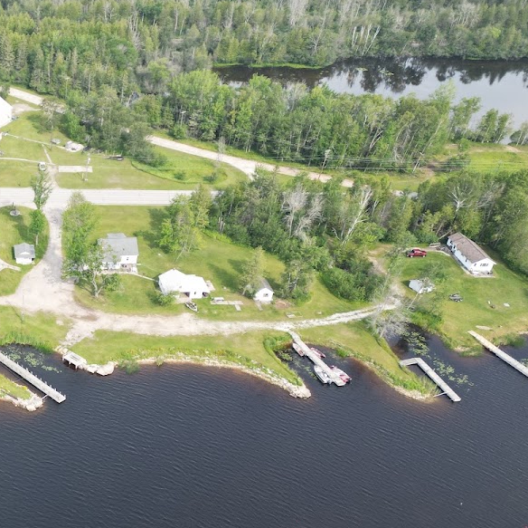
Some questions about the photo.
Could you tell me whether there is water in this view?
Yes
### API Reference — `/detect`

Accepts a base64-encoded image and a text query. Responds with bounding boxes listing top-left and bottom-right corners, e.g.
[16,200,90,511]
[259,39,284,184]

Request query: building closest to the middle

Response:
[245,272,277,303]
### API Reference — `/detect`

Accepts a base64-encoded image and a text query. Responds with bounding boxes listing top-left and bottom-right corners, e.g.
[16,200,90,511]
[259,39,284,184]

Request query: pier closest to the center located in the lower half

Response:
[292,337,347,387]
